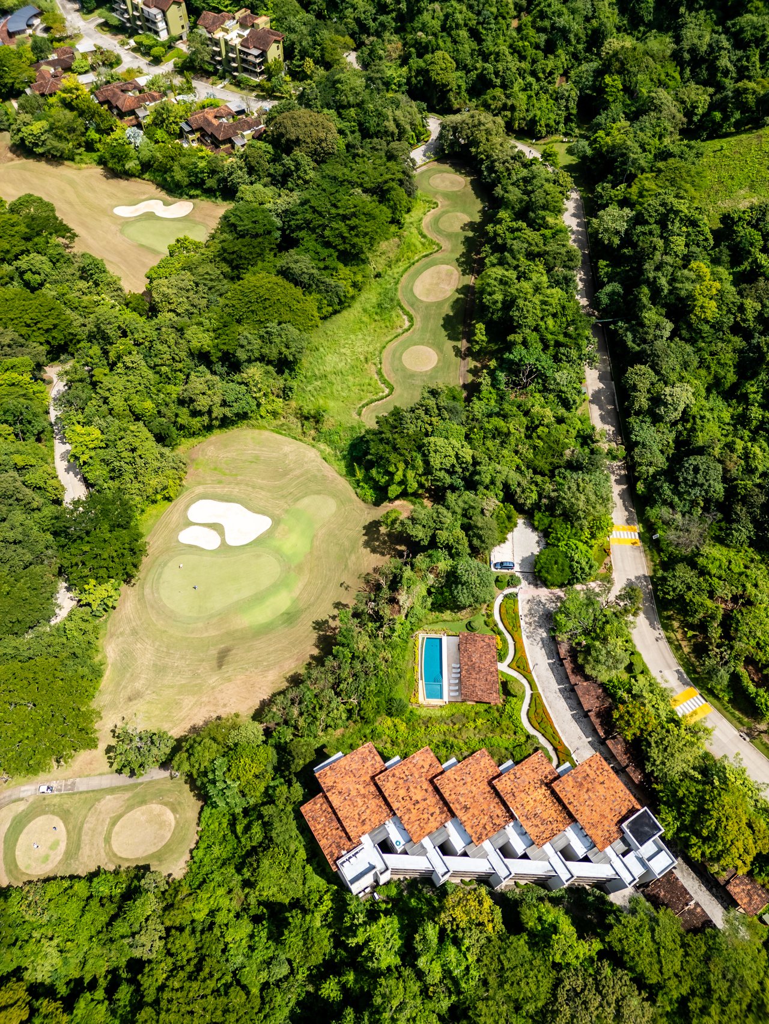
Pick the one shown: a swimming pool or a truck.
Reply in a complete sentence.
Looking from above, you can make out a swimming pool.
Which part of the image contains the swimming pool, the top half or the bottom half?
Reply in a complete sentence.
You can find the swimming pool in the bottom half.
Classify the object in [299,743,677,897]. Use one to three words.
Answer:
building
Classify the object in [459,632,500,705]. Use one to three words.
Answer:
building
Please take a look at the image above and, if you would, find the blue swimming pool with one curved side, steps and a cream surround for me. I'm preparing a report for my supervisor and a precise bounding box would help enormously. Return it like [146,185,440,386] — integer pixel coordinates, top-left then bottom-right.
[418,633,487,706]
